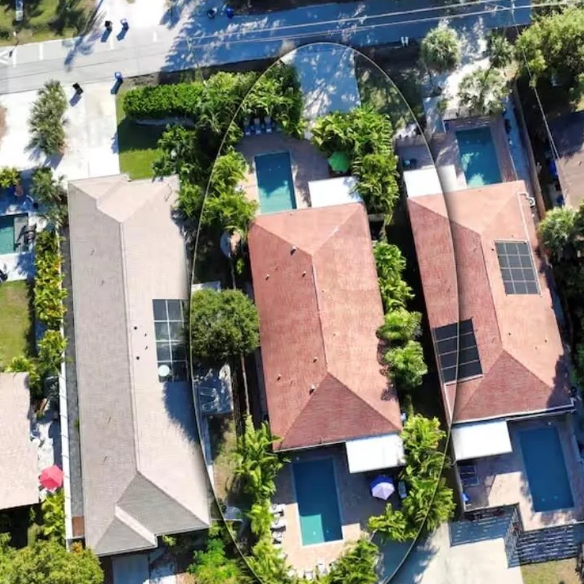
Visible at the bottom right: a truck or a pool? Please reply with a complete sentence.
There is a pool at the bottom right.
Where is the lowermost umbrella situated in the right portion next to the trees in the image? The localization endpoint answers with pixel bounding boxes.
[370,475,396,500]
